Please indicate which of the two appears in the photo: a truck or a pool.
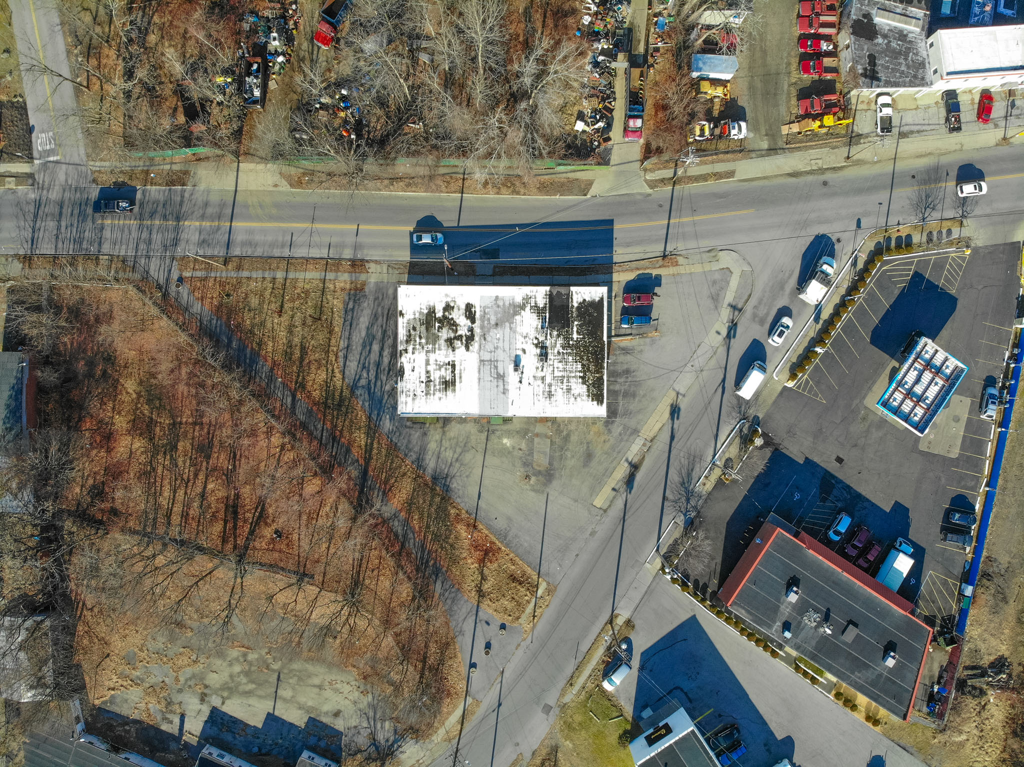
truck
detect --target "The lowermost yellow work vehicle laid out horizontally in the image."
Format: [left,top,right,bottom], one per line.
[799,117,850,137]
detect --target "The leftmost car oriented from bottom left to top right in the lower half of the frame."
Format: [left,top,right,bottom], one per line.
[604,654,634,690]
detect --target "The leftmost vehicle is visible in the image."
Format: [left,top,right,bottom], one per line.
[96,198,137,214]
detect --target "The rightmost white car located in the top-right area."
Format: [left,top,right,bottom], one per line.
[956,181,987,196]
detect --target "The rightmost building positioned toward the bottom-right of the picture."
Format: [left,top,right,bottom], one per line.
[717,515,933,721]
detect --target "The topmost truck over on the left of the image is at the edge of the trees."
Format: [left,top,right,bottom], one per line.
[312,0,350,54]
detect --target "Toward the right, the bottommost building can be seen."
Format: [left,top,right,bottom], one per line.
[628,707,718,767]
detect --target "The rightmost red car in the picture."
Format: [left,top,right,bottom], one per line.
[976,93,994,123]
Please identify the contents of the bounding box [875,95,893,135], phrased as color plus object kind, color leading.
white vehicle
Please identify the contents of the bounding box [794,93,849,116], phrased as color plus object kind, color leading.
red truck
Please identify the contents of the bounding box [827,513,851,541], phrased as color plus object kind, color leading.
blue car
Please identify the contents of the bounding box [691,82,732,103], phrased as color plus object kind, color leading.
yellow work vehicle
